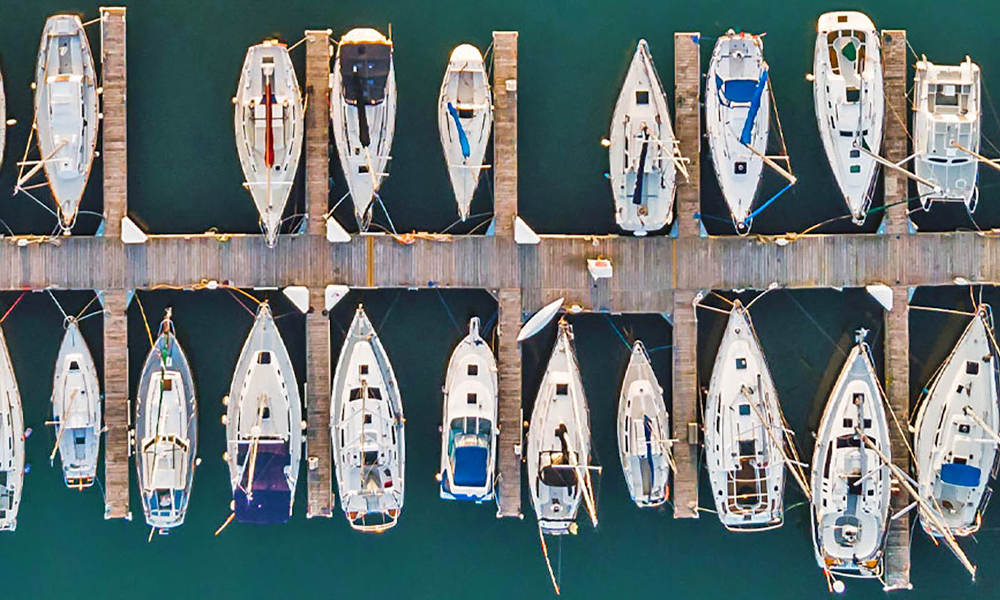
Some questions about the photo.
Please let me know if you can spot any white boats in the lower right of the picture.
Yes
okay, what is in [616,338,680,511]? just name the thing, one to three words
boat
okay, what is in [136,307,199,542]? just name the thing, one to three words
boat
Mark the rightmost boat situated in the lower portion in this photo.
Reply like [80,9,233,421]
[914,304,1000,545]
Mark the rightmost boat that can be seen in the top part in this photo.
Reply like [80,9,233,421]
[911,55,1000,213]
